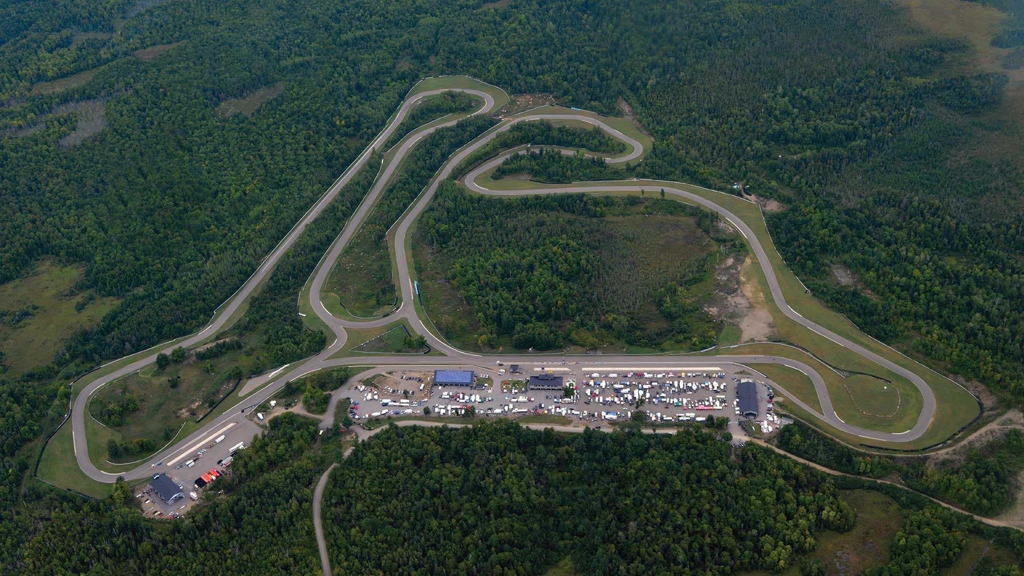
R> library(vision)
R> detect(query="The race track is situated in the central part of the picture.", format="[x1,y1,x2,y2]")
[72,89,935,485]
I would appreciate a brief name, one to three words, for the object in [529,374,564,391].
building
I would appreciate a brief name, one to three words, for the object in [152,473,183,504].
building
